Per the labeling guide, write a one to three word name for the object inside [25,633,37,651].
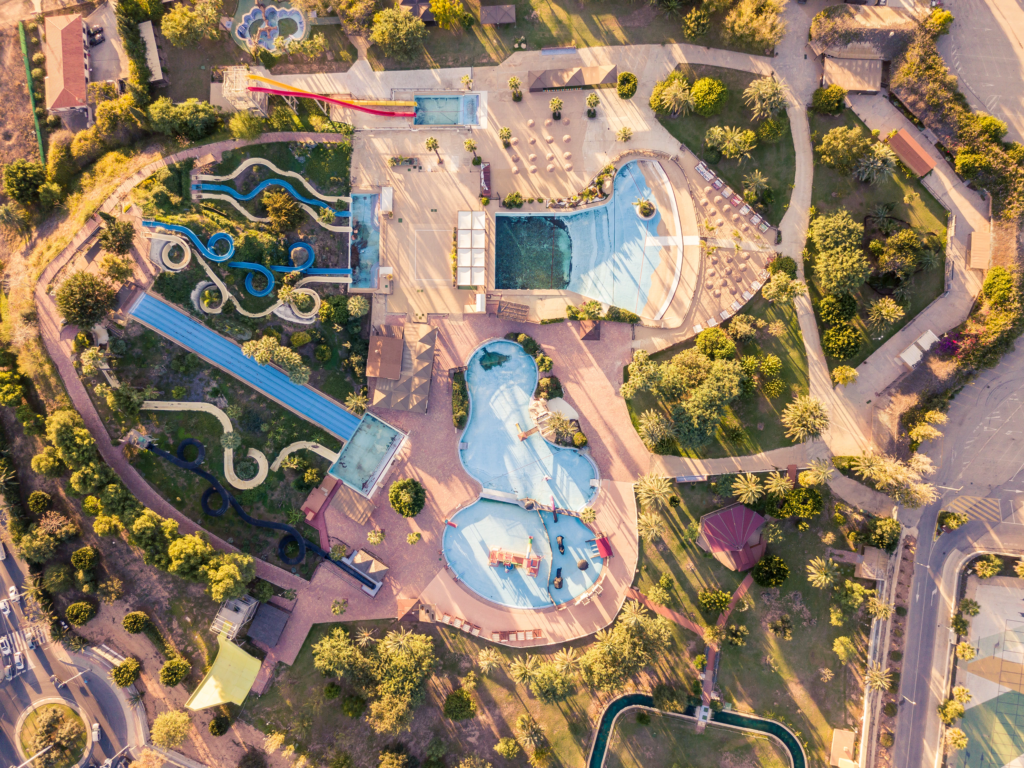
vehicle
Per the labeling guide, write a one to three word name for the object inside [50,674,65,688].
car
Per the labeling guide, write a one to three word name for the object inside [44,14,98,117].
house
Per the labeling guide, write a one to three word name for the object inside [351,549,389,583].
building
